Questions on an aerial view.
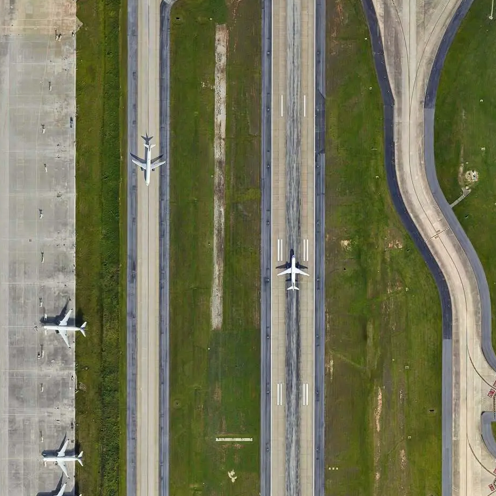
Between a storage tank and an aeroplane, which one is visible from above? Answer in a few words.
aeroplane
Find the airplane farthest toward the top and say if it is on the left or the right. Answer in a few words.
left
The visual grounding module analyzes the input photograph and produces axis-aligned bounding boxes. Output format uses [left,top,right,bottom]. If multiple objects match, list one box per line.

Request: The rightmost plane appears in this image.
[277,255,310,290]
